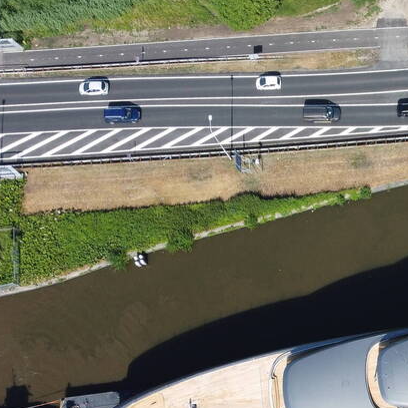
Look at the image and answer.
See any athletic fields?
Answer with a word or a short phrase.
No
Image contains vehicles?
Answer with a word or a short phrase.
Yes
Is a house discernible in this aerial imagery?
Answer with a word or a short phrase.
No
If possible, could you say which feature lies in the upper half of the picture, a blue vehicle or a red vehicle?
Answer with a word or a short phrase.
blue vehicle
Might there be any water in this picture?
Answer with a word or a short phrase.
Yes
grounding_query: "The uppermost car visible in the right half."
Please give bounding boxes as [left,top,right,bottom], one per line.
[256,73,283,90]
